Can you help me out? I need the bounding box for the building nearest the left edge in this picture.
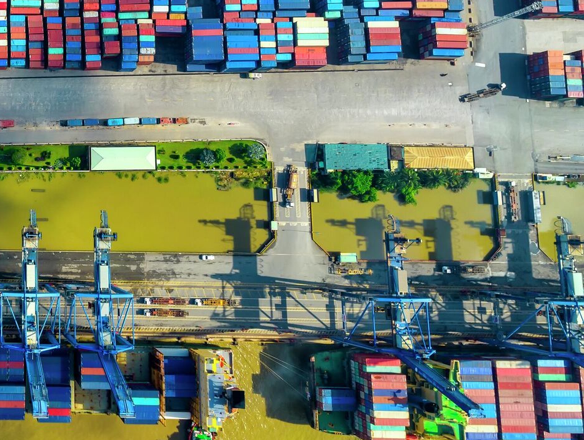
[88,144,161,171]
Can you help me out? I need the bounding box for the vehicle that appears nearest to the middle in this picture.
[286,163,299,209]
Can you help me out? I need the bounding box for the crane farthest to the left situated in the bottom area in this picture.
[0,207,66,429]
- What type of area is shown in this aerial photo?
port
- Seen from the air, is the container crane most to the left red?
No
